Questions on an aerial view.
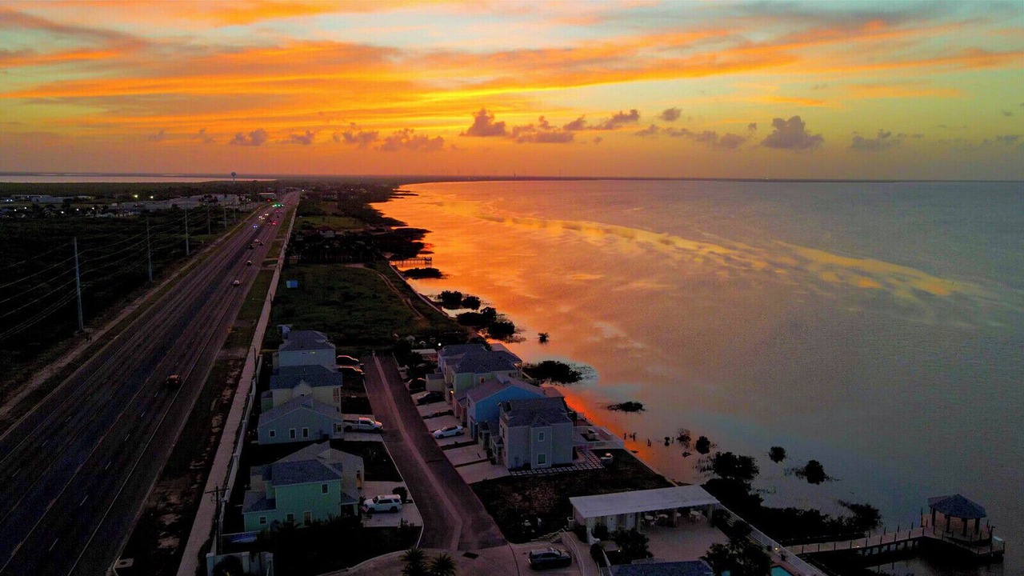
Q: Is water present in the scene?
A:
Yes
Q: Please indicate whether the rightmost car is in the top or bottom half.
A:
bottom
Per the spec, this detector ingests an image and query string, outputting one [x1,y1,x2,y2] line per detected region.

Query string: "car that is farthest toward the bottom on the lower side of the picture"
[526,548,571,571]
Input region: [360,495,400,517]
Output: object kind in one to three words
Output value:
car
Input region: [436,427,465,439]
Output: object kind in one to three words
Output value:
vehicle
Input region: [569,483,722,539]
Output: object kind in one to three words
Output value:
building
